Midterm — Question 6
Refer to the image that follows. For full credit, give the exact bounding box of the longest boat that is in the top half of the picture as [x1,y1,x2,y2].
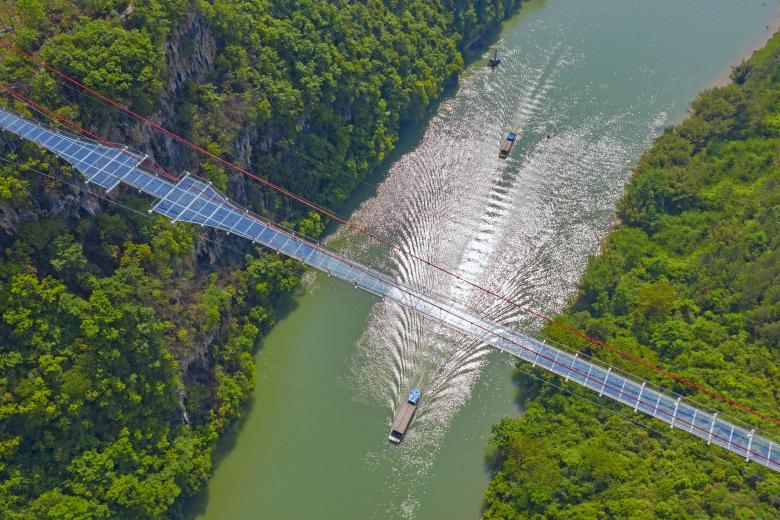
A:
[499,130,516,158]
